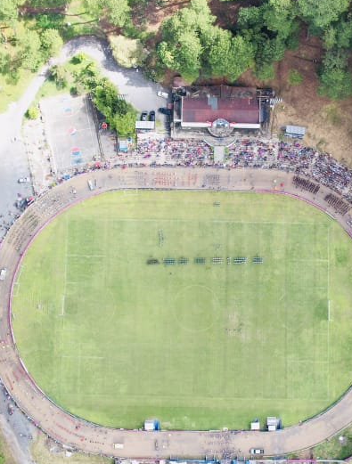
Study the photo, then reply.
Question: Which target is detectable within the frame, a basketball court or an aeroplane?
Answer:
basketball court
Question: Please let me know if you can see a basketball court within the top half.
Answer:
Yes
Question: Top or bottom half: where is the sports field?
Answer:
bottom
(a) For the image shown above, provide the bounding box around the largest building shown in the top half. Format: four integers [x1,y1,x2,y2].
[172,84,275,163]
